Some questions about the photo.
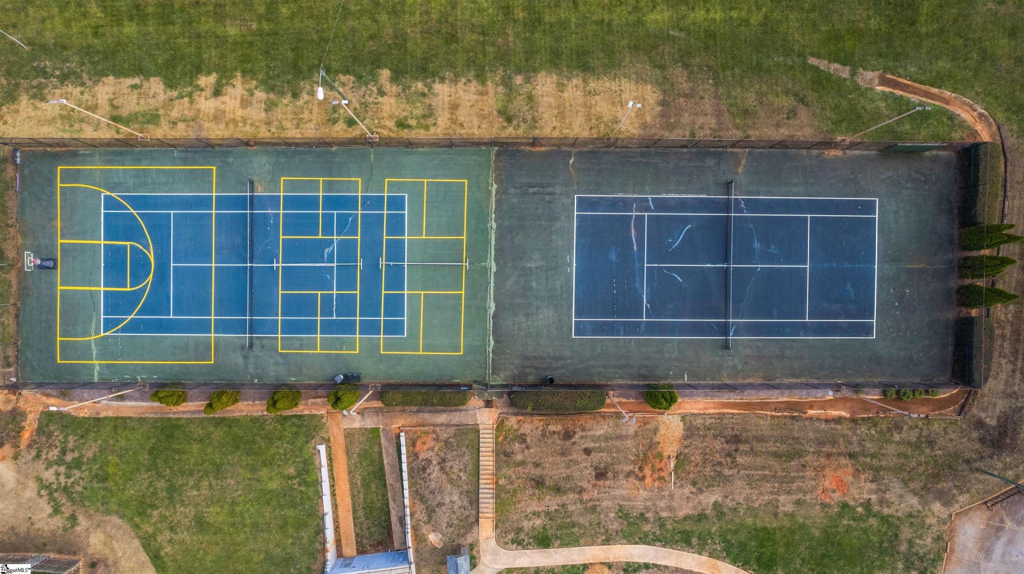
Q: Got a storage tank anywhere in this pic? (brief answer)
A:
No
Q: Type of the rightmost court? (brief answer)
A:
tennis court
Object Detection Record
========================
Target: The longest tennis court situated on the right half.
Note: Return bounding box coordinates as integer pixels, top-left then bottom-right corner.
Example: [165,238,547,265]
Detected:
[490,147,958,383]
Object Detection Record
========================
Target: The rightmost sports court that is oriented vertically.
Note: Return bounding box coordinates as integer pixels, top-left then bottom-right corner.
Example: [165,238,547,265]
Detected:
[381,179,468,354]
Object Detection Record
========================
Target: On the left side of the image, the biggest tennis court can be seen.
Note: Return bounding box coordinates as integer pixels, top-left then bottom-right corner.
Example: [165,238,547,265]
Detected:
[19,147,490,382]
